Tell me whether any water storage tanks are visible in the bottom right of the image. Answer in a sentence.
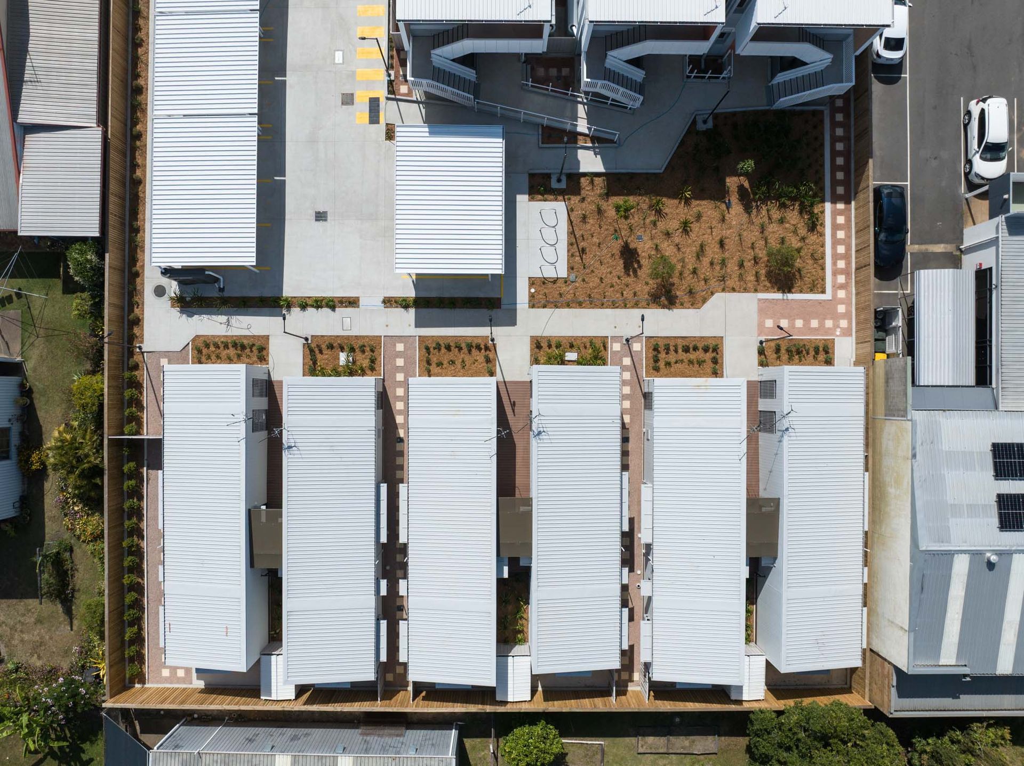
No, the scene shows no water storage tank in the bottom right of the image.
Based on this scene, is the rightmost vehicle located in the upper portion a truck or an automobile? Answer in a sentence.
It looks like the rightmost vehicle located in the upper portion is an automobile.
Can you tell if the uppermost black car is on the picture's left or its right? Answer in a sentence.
You can find the uppermost black car on the right side of the picture.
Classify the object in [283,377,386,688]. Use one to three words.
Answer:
house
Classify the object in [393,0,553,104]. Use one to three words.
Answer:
building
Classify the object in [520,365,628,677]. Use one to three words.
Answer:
house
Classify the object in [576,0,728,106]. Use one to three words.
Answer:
building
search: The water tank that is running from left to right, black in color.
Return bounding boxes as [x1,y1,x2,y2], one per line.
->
[158,266,225,293]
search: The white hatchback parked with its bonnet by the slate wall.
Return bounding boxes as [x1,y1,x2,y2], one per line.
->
[964,94,1014,180]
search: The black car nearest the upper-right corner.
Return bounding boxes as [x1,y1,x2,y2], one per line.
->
[878,179,912,266]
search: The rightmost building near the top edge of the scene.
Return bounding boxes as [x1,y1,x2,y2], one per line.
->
[723,0,897,108]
